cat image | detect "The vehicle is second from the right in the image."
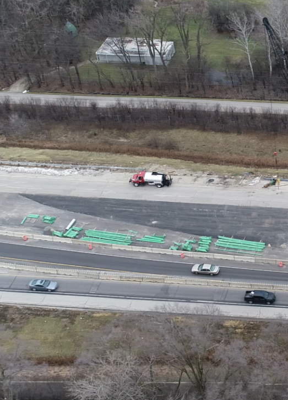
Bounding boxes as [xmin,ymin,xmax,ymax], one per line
[191,264,220,276]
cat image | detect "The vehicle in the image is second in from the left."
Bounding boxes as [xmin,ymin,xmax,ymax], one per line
[130,171,173,187]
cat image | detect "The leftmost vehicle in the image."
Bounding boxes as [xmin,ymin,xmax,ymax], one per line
[26,279,58,293]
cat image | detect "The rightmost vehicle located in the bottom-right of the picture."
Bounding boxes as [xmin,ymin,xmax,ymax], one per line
[242,288,278,305]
